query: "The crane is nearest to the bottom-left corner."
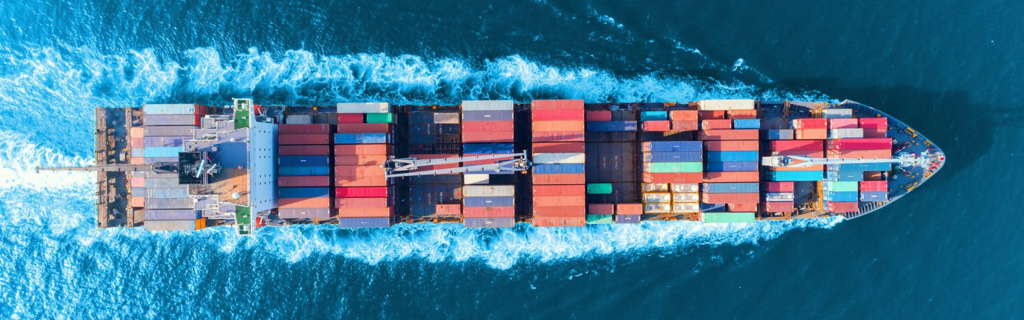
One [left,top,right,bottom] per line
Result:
[35,162,178,176]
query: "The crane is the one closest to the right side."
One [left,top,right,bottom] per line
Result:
[759,154,909,168]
